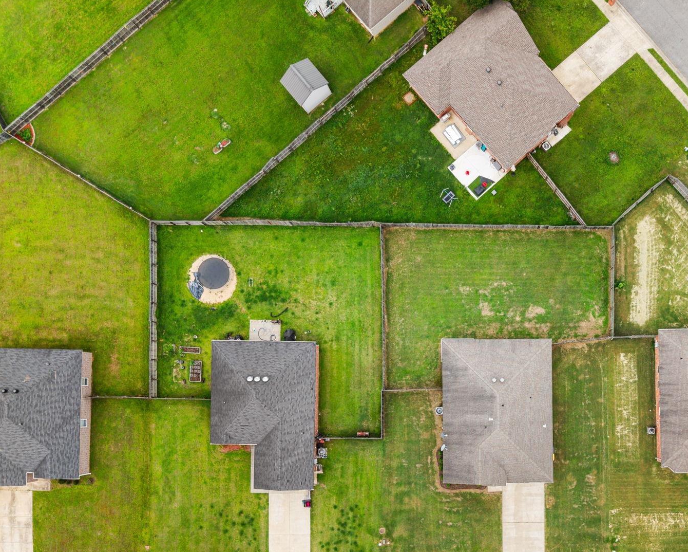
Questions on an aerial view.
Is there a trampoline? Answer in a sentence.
Yes, this view includes a trampoline.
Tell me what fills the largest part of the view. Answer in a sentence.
For the most part, this view shows grass.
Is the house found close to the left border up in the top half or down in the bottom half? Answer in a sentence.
The bottom half of the photo is where the house found close to the left border is.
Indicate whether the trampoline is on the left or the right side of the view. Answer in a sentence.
It is on the left.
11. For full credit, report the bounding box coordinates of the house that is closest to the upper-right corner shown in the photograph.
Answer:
[403,1,580,173]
